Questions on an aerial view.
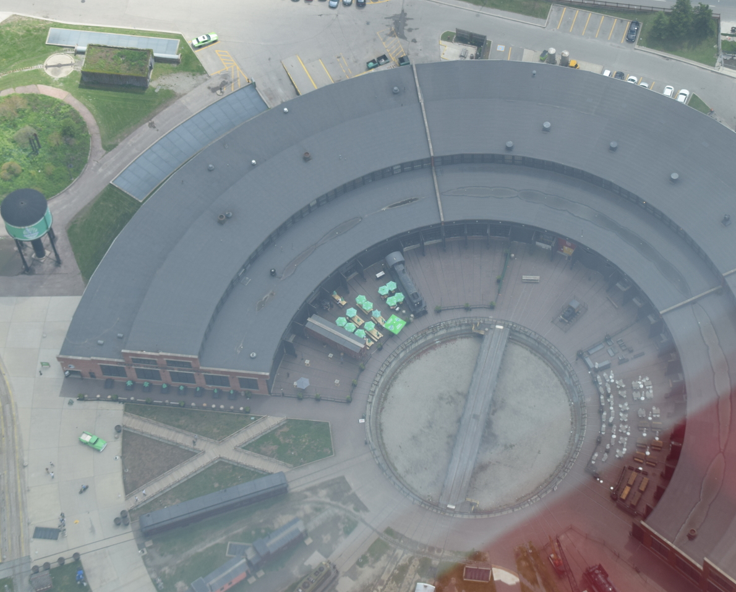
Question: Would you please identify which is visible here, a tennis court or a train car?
train car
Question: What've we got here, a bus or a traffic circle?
bus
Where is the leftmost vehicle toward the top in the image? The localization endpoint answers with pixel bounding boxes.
[191,33,217,48]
